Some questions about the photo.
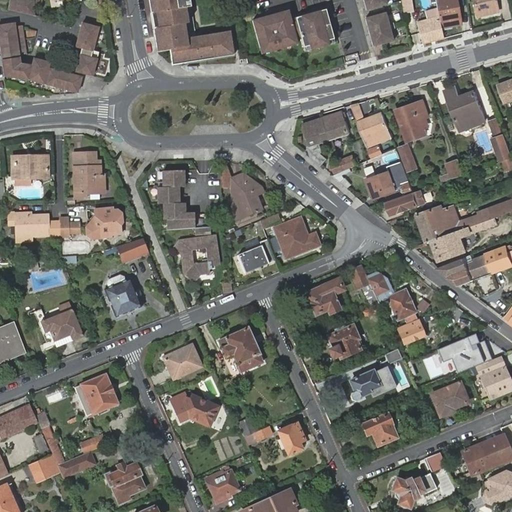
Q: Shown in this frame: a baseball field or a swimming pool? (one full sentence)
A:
There is a swimming pool in the scene.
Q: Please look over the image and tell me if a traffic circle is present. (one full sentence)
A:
Yes, the image includes a traffic circle.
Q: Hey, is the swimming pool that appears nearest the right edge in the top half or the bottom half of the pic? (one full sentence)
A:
Seen from above, the swimming pool that appears nearest the right edge lies in the top half of the view.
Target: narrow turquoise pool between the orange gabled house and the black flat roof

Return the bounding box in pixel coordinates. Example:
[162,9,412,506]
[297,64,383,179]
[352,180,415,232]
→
[380,149,400,165]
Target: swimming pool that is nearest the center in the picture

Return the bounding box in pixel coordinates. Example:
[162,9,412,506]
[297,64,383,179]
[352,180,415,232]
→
[203,376,220,397]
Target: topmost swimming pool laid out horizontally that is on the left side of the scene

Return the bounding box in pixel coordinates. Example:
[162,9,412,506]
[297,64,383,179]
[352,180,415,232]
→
[16,187,42,199]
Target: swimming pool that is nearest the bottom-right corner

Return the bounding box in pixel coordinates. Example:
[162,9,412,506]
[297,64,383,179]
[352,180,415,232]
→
[394,364,409,388]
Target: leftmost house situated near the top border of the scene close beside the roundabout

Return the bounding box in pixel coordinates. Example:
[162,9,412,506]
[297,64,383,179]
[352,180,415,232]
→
[0,22,84,94]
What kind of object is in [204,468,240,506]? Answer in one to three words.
house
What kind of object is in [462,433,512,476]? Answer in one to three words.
house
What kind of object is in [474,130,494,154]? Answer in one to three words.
swimming pool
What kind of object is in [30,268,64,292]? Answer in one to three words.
swimming pool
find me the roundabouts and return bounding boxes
[98,57,300,164]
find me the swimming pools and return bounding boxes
[420,0,433,10]
[30,268,64,292]
[380,149,400,165]
[474,130,494,154]
[203,376,220,397]
[16,187,42,199]
[394,364,409,388]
